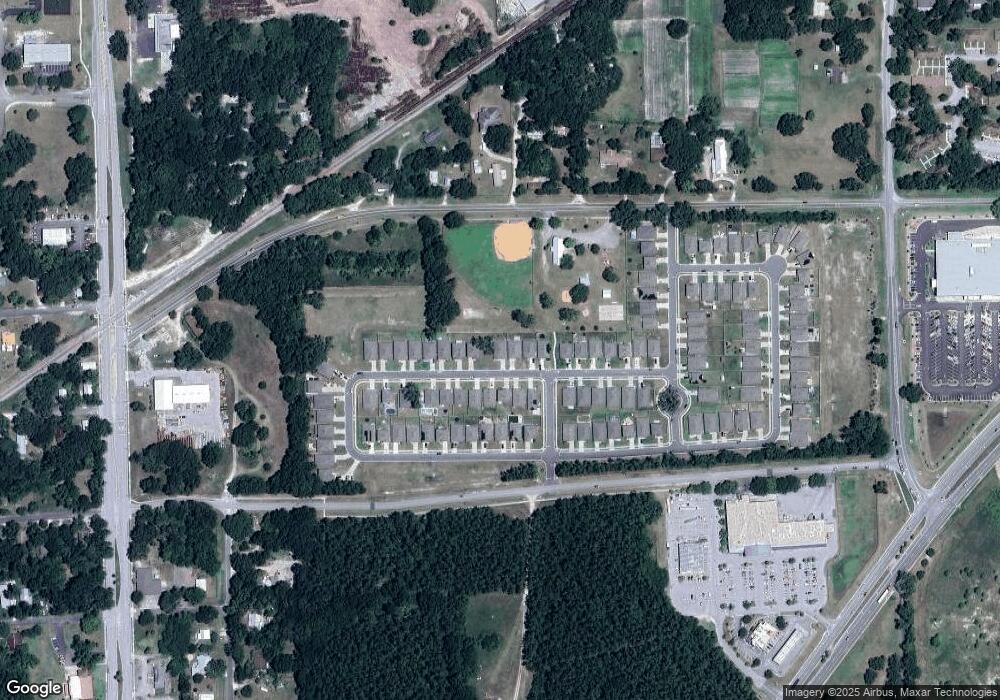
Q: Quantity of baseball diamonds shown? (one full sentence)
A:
Only 1 baseball diamond is visible.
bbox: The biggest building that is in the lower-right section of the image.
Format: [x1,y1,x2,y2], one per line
[727,494,834,556]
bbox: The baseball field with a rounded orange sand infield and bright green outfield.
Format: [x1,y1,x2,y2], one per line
[447,220,534,308]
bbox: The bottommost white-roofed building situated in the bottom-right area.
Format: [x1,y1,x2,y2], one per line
[752,622,780,649]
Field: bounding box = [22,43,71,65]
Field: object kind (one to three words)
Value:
building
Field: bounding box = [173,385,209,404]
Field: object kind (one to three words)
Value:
shed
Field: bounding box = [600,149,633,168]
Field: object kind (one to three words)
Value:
house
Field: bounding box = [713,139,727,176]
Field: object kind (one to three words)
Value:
building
